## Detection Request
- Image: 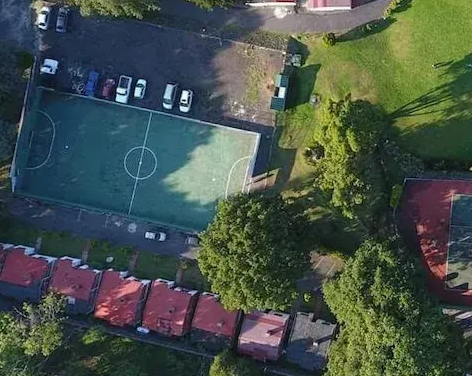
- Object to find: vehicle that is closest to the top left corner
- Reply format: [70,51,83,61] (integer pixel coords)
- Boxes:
[37,6,51,30]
